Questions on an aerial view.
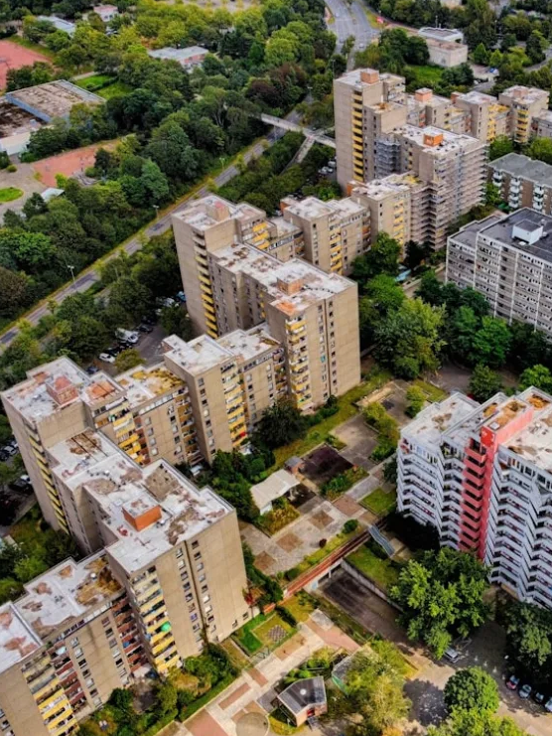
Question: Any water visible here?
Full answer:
No, no water is visible.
